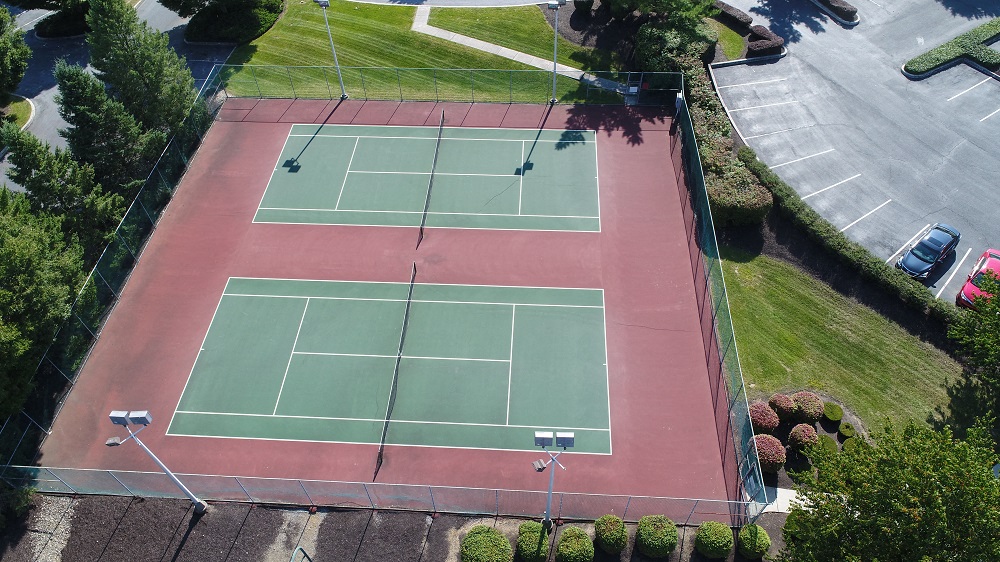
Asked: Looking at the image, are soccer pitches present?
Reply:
No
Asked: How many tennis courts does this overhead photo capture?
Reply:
2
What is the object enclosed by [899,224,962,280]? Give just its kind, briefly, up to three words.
car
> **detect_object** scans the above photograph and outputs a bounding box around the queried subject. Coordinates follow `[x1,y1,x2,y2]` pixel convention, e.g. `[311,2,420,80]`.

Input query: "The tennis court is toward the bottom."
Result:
[166,278,612,454]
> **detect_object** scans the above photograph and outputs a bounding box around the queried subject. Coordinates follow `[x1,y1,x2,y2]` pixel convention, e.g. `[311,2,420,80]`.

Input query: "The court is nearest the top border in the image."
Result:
[253,124,601,233]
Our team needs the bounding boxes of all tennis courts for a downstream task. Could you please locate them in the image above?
[253,124,601,233]
[166,278,612,454]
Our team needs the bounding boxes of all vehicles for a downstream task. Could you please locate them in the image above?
[899,224,962,280]
[950,251,1000,308]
